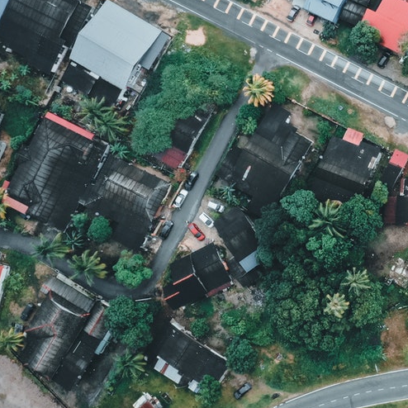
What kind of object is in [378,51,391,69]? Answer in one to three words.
vehicle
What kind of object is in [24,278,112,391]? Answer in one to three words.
house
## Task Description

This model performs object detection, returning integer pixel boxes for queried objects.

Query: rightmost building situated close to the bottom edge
[152,322,231,394]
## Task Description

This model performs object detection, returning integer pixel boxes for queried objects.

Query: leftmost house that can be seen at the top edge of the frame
[0,0,96,74]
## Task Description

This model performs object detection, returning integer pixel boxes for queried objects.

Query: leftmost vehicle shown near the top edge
[285,6,301,25]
